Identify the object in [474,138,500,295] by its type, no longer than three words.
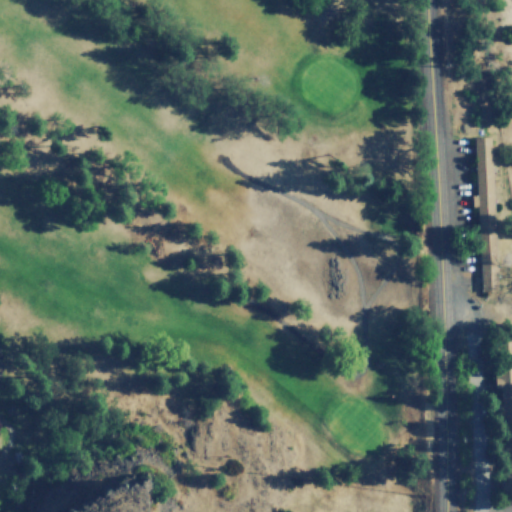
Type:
building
